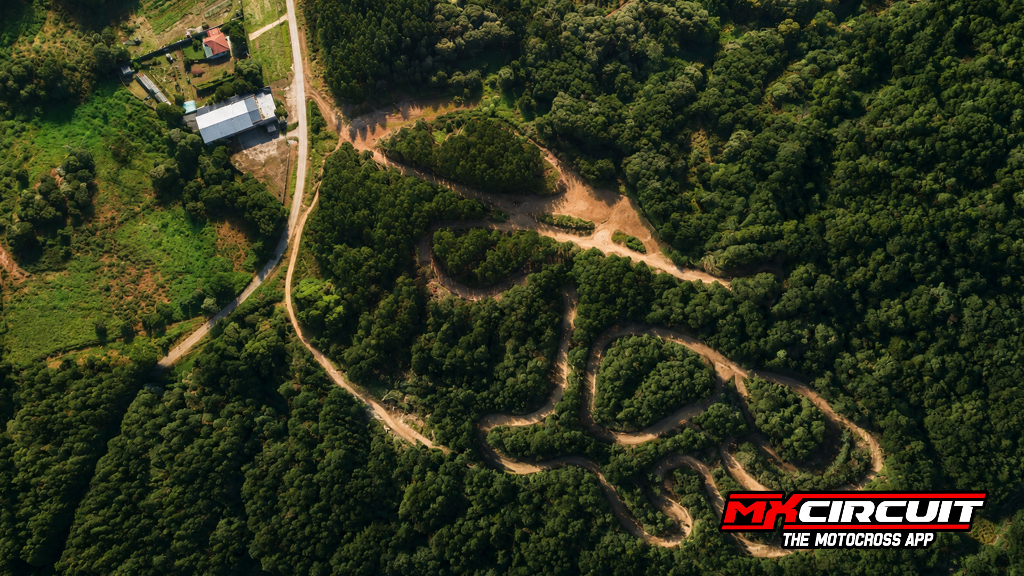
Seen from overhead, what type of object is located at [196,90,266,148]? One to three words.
building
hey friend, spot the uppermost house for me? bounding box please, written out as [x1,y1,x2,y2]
[203,28,231,60]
